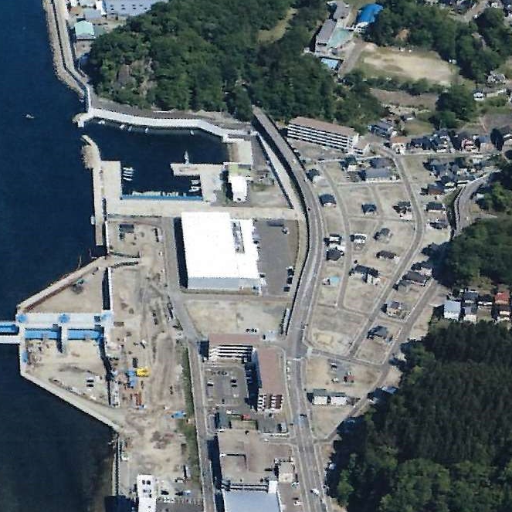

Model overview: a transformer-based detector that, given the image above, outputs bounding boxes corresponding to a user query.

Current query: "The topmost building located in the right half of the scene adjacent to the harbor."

[286,116,353,152]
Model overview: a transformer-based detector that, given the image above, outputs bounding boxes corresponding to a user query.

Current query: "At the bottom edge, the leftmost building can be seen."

[135,475,156,512]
